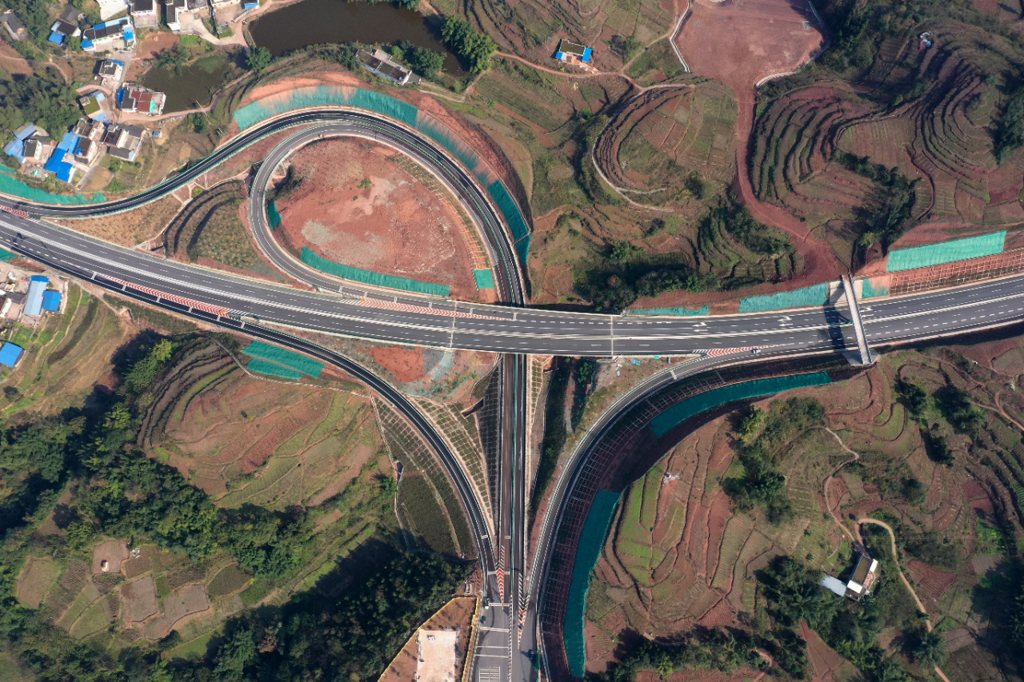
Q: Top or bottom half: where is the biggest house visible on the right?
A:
bottom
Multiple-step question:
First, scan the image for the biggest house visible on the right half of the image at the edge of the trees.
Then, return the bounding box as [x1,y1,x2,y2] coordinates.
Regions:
[844,553,878,602]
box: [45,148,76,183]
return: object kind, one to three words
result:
shed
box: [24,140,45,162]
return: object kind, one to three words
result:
house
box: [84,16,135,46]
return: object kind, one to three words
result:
house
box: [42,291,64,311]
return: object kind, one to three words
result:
shed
